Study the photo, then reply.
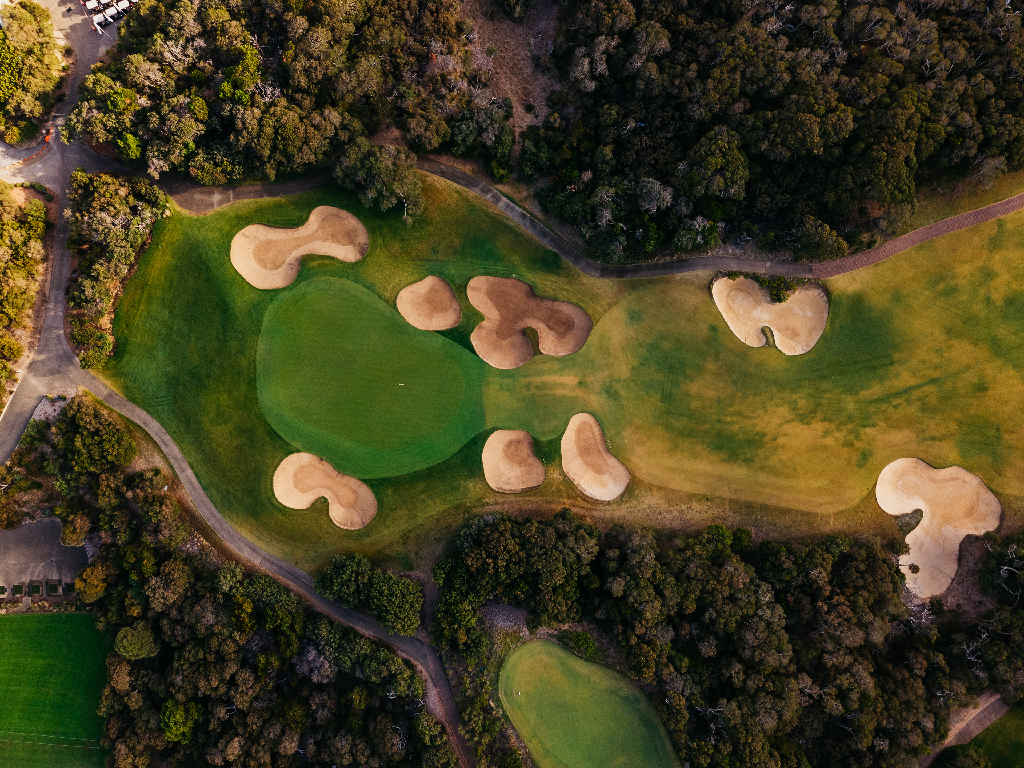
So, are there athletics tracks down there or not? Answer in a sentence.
No, there appears to be no athletics track in this shot.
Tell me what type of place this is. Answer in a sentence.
The picture captures a golf course.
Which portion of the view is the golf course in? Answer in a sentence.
The golf course appears toward the center of the photo.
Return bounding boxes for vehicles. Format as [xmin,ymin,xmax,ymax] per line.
[93,14,112,29]
[86,0,104,15]
[106,7,124,22]
[118,0,135,15]
[131,0,142,6]
[100,0,118,10]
